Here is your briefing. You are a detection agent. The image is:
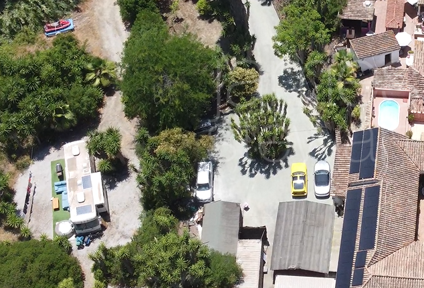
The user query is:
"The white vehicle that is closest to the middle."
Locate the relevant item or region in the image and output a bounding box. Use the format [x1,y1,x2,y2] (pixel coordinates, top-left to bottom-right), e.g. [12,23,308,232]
[193,164,214,204]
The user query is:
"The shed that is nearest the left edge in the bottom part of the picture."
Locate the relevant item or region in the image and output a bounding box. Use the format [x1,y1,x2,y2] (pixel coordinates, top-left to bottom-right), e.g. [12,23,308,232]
[201,201,243,262]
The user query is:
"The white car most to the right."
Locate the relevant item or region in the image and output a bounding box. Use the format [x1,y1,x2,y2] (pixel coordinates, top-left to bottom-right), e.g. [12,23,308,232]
[312,164,330,198]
